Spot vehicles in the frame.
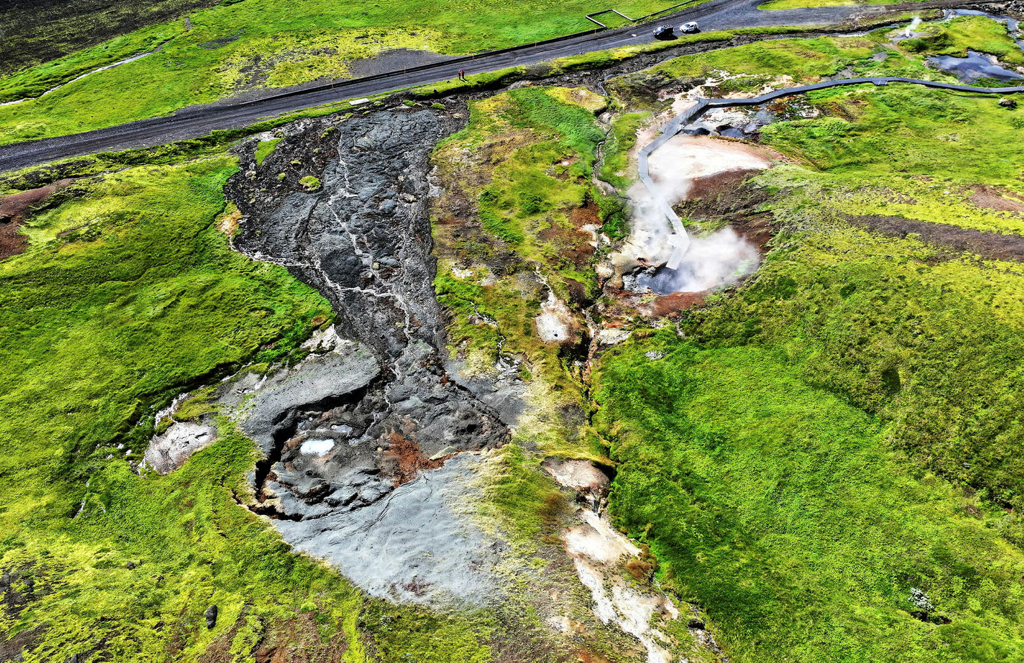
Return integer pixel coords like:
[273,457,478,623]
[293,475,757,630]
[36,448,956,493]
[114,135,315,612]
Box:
[654,24,676,38]
[680,22,701,33]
